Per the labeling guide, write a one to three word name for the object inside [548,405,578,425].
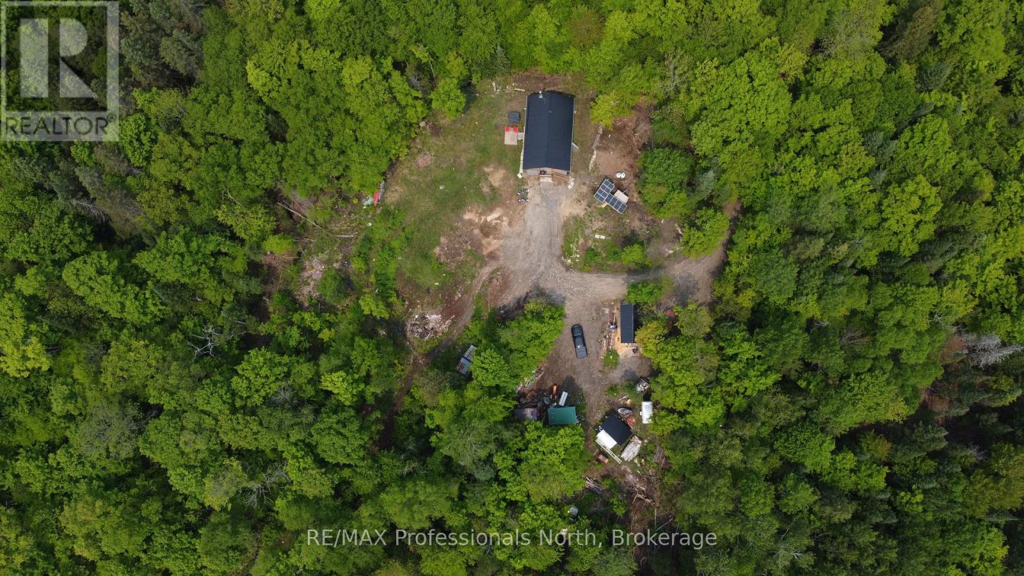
shed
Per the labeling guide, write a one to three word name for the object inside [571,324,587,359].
vehicle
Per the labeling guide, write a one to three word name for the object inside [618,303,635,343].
shed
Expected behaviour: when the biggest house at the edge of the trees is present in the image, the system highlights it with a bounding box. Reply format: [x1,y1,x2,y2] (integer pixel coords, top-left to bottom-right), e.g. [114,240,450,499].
[521,91,578,172]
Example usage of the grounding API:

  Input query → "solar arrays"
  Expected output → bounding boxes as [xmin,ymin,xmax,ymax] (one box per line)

[605,194,627,213]
[595,180,614,202]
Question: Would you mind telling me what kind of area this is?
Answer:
forest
